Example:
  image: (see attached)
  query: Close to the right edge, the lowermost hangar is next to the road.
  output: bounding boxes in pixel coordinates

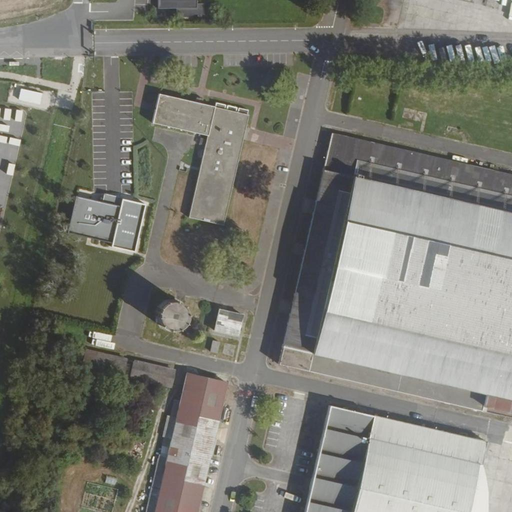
[352,415,490,512]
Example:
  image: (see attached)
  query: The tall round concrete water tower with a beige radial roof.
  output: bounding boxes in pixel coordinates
[159,300,192,334]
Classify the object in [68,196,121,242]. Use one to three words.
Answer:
building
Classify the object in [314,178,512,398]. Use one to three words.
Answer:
hangar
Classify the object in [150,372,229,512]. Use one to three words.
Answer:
building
